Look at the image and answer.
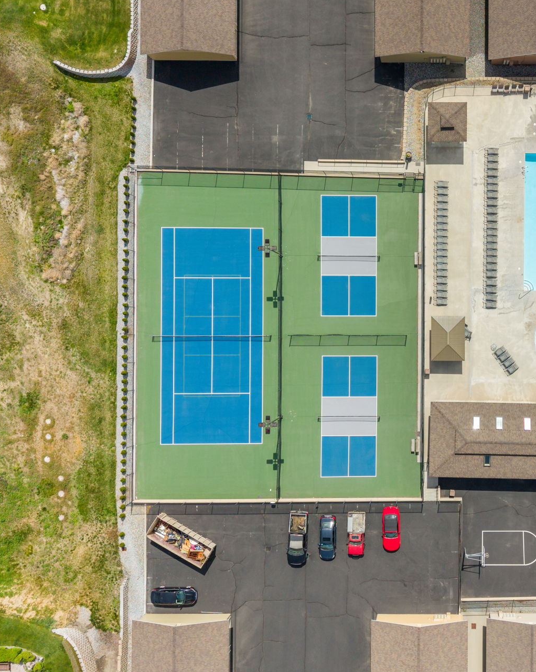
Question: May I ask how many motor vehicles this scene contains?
5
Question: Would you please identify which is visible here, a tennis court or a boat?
tennis court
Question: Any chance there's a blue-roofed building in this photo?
No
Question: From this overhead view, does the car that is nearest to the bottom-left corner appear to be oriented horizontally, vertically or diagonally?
horizontally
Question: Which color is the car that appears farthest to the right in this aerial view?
red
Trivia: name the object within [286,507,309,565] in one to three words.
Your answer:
truck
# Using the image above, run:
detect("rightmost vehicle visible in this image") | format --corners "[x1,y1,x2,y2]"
[382,505,402,550]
